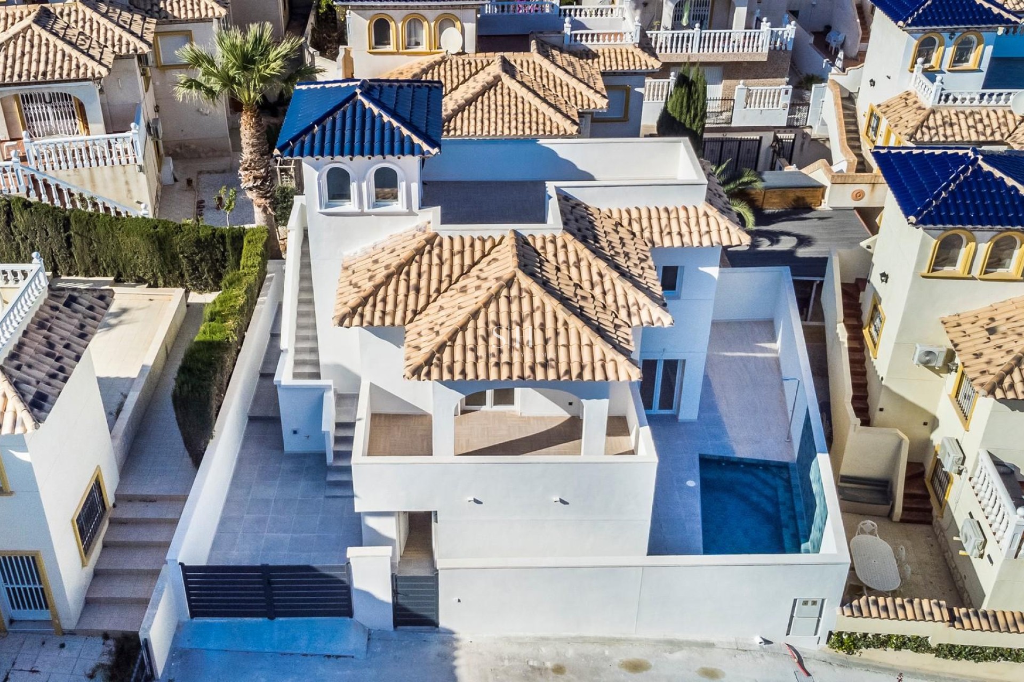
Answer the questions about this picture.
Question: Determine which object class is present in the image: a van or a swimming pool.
swimming pool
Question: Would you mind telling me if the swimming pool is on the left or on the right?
right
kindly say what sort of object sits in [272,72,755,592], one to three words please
house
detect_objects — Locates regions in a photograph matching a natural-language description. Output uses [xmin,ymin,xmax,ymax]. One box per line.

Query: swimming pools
[699,458,795,545]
